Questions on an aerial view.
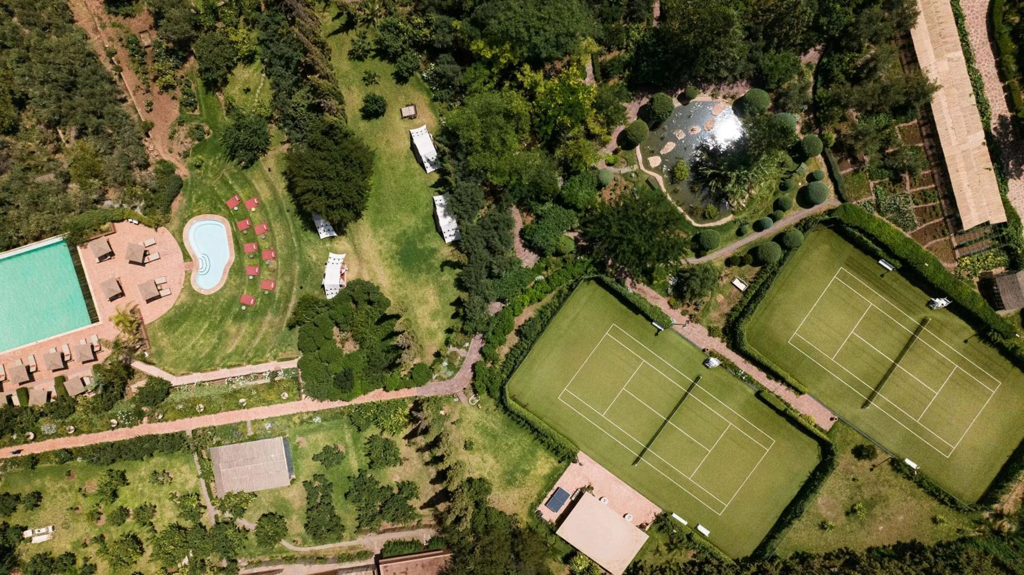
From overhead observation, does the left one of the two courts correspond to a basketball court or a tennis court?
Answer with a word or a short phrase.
tennis court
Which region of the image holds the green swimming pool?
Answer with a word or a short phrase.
left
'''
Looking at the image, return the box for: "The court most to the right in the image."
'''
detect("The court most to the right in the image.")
[740,222,1024,503]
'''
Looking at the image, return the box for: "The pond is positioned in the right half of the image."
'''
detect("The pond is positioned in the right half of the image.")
[633,94,759,228]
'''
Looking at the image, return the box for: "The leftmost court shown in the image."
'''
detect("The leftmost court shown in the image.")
[505,278,821,561]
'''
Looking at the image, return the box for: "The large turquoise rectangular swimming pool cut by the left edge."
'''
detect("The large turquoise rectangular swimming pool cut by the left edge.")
[0,232,103,354]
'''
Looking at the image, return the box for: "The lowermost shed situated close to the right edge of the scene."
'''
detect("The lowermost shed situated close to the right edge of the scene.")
[983,270,1024,311]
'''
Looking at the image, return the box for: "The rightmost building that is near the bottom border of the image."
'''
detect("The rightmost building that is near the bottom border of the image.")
[556,487,648,575]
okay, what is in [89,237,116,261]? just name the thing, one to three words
umbrella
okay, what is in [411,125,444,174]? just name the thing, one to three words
tent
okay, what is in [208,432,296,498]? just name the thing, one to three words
shed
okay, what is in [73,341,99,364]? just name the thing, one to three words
umbrella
